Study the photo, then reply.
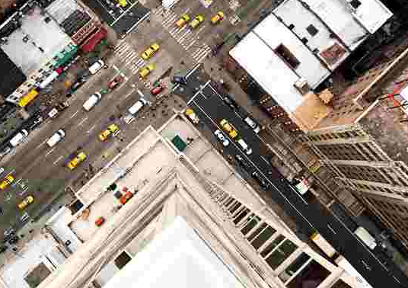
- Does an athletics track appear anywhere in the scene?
No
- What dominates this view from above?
buildings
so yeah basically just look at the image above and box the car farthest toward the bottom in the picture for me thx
[377,247,396,266]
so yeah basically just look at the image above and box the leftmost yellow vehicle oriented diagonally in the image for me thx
[0,174,16,192]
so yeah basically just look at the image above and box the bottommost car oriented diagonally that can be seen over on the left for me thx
[16,193,35,211]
